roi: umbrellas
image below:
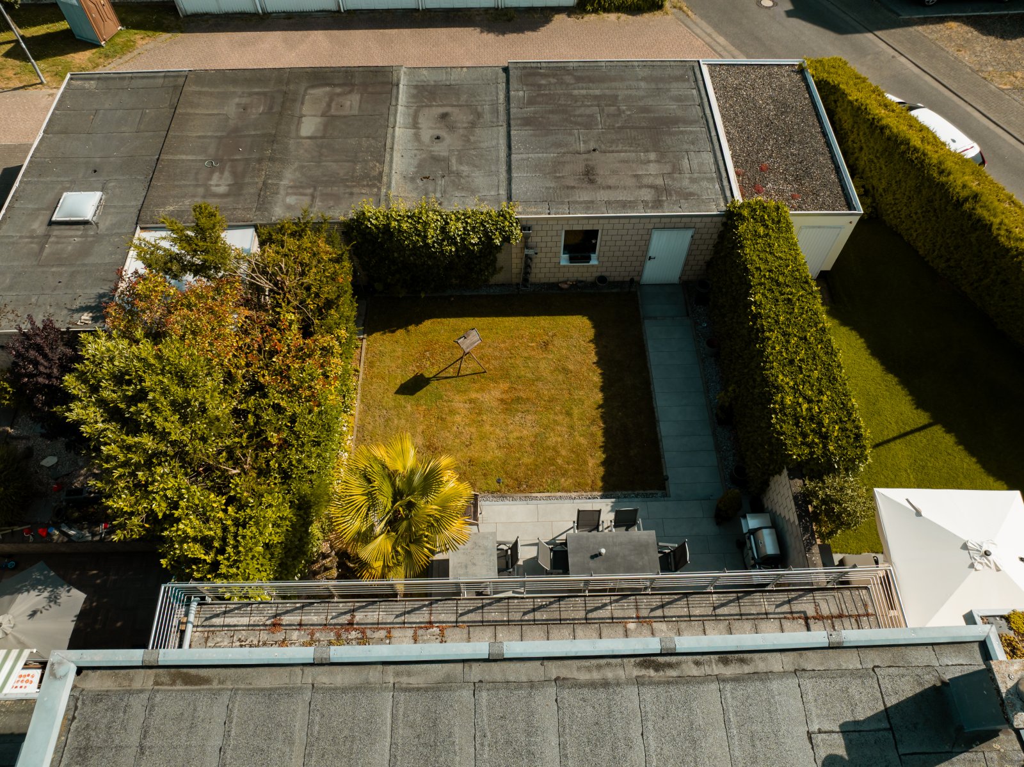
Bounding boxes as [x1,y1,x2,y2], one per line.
[866,485,1024,629]
[0,555,103,661]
